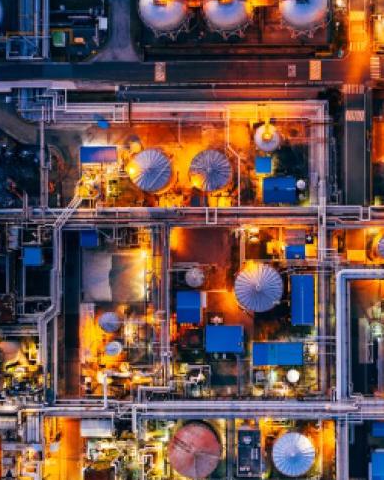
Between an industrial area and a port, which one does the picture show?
industrial area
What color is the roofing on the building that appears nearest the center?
blue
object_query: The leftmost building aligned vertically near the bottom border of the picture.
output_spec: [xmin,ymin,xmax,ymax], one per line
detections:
[238,427,260,478]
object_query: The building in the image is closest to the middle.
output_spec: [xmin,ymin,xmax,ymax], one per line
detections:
[176,290,200,324]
